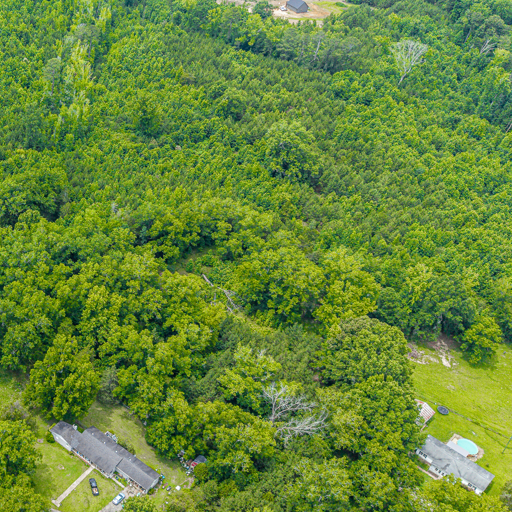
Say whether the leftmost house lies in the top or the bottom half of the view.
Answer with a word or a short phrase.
bottom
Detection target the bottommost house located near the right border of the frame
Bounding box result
[413,428,490,492]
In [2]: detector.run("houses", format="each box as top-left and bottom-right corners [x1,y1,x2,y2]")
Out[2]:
[285,0,310,10]
[50,421,161,495]
[413,428,490,492]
